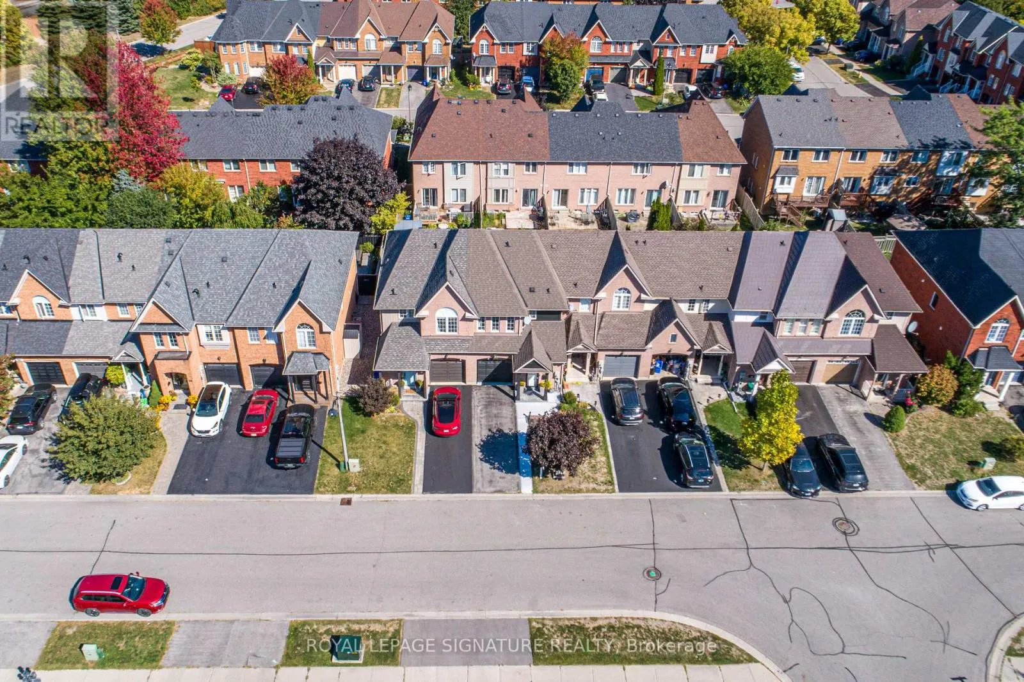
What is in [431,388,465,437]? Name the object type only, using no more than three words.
car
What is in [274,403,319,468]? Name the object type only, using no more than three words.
truck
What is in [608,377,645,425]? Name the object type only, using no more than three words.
car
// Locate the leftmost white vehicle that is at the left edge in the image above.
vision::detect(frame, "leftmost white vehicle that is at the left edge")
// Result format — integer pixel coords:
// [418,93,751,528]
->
[0,432,33,488]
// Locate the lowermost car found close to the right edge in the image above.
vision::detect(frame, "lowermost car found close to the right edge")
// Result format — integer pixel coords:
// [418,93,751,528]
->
[959,473,1024,509]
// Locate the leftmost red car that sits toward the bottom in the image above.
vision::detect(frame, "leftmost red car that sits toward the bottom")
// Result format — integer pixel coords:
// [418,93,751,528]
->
[68,568,170,615]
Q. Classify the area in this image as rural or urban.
urban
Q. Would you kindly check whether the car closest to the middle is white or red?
red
